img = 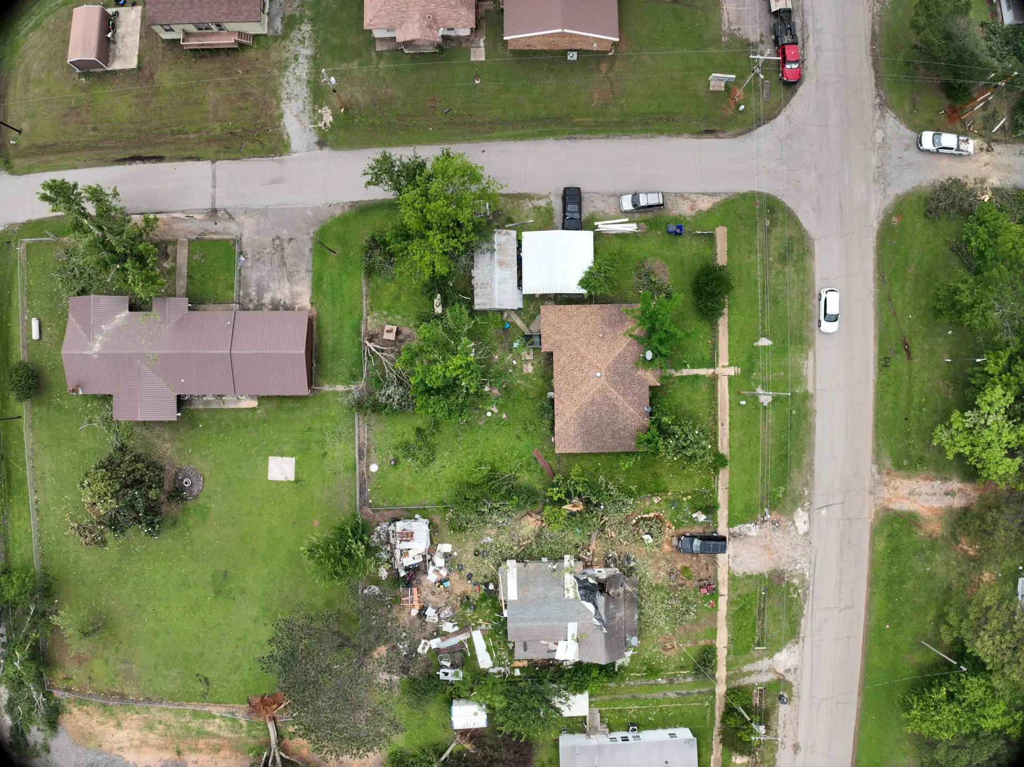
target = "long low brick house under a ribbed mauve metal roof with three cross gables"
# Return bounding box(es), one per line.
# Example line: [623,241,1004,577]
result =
[60,296,311,421]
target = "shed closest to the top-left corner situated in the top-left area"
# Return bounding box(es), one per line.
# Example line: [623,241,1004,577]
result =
[65,4,110,72]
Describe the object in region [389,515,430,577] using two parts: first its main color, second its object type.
white trailer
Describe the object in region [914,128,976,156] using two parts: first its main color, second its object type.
white truck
